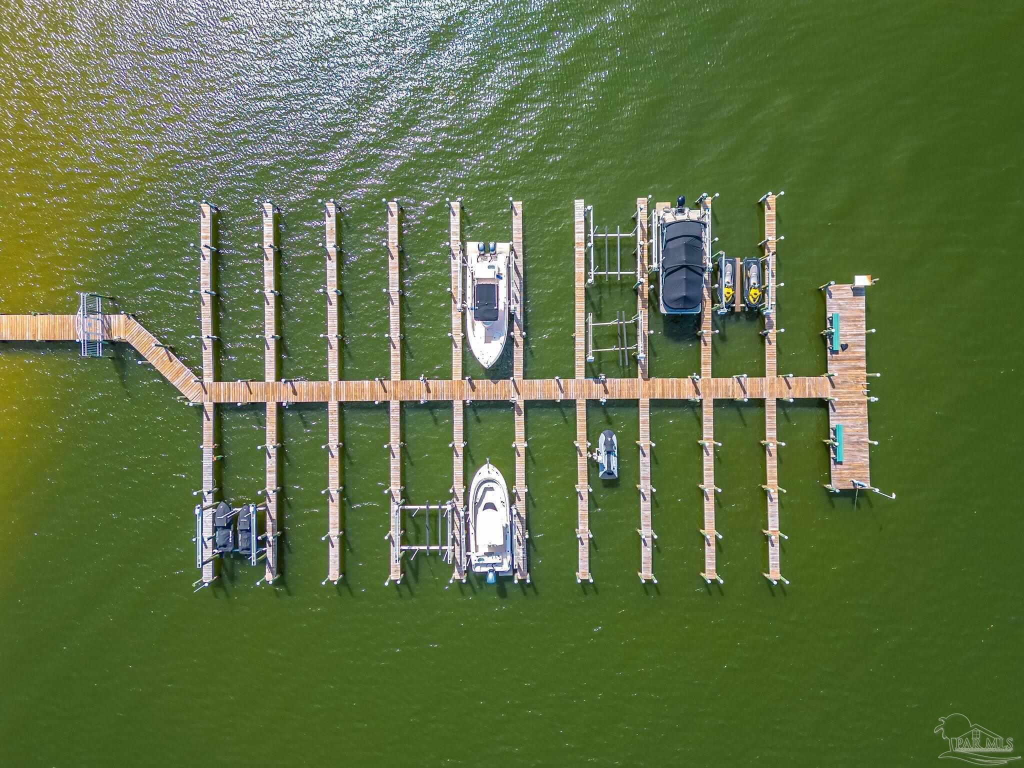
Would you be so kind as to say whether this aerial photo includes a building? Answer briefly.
No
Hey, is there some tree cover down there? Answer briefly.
No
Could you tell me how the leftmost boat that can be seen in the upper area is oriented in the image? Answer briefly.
vertically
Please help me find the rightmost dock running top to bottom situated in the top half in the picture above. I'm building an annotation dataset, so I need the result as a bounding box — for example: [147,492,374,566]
[758,192,784,377]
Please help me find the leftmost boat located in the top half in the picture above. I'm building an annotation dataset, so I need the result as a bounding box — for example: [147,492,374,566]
[467,242,509,369]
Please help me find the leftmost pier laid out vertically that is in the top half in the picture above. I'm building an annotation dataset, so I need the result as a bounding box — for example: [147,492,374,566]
[190,199,221,381]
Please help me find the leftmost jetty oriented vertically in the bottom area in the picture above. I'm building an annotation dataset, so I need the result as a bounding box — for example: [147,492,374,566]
[193,403,223,586]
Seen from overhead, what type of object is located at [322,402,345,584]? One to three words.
pier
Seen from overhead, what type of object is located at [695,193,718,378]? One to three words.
pier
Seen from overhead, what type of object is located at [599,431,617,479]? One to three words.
boat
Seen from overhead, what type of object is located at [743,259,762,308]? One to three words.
boat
